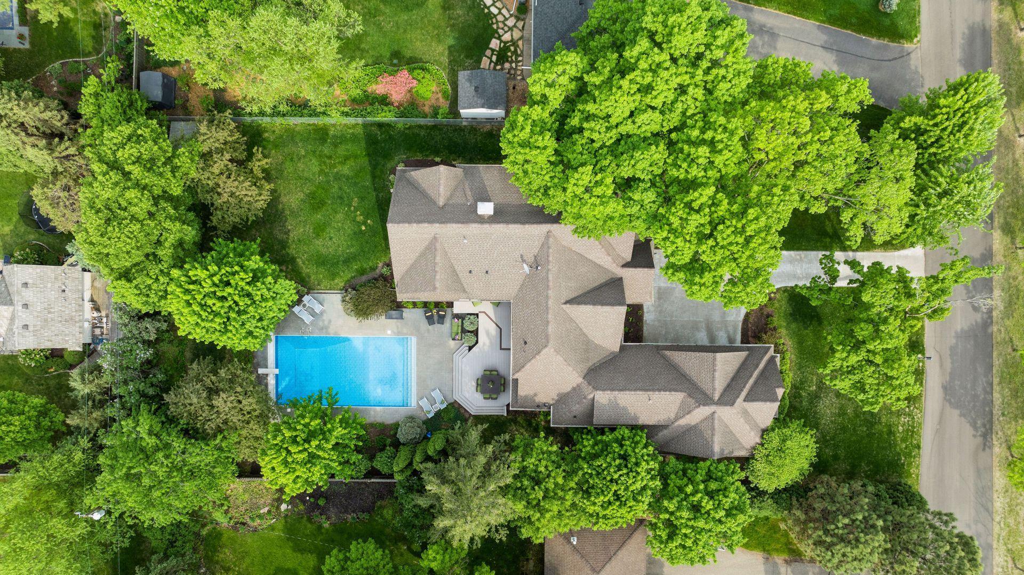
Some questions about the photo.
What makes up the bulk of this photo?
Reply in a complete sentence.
The bulk of the photo consists of trees.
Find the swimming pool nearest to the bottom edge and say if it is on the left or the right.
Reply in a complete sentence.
The swimming pool nearest to the bottom edge sits on the left side.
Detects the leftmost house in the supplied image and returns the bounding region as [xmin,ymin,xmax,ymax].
[0,265,98,351]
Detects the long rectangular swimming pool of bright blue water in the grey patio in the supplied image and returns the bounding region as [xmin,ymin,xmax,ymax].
[268,334,416,409]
